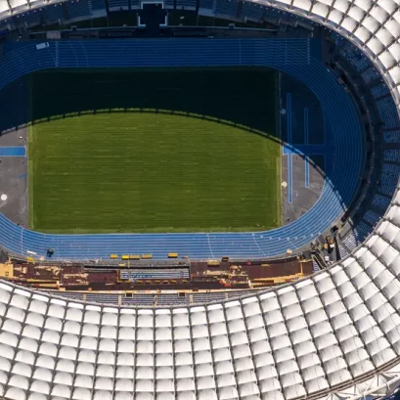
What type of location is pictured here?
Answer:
sports ground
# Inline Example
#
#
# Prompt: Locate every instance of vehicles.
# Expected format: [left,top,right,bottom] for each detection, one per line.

[47,245,54,255]
[35,42,50,49]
